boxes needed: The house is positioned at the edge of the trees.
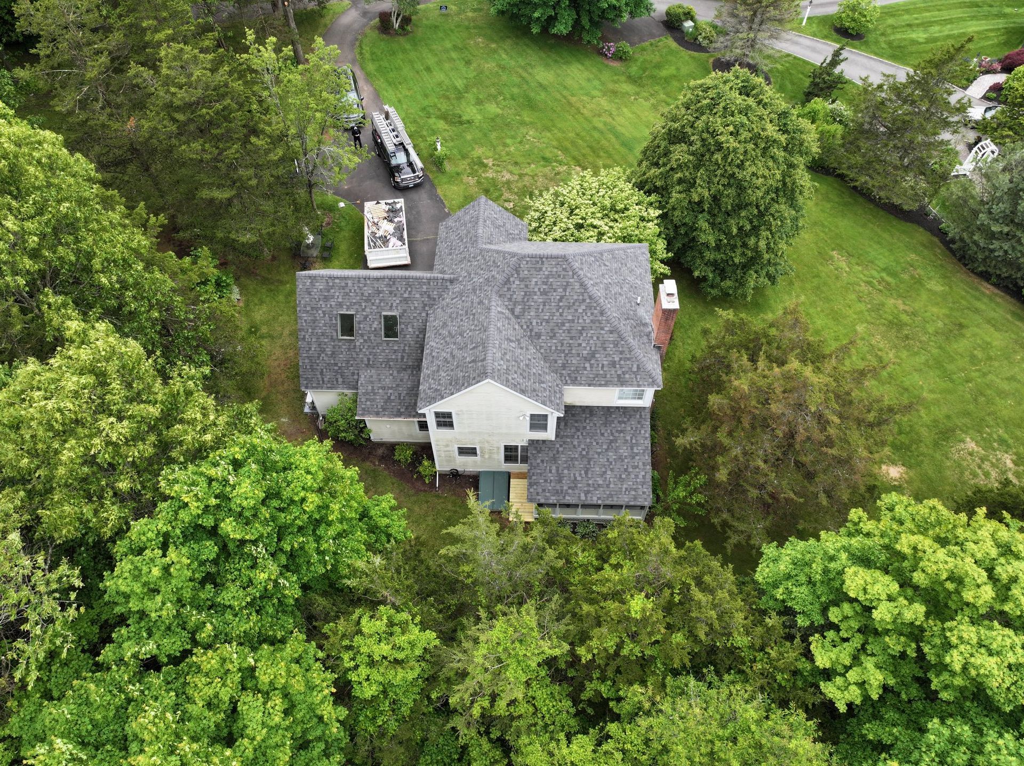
[295,189,680,528]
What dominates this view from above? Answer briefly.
trees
